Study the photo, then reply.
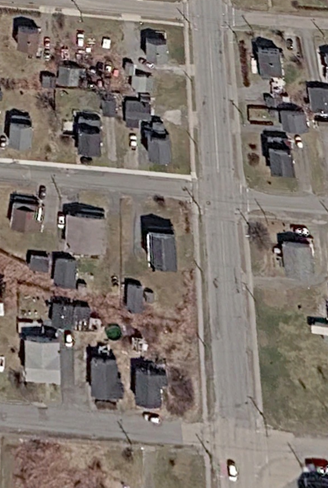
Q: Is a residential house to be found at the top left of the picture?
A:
Yes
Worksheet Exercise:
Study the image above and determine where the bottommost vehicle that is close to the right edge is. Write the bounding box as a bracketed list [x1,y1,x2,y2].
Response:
[306,463,328,476]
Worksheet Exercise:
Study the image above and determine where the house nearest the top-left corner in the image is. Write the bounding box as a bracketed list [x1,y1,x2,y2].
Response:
[17,25,41,58]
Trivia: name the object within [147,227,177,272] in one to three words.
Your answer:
house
